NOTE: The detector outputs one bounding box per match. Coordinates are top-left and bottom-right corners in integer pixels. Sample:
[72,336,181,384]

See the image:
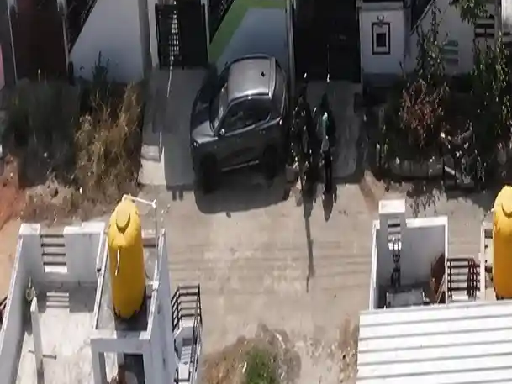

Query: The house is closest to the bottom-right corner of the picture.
[351,208,512,384]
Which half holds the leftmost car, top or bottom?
top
